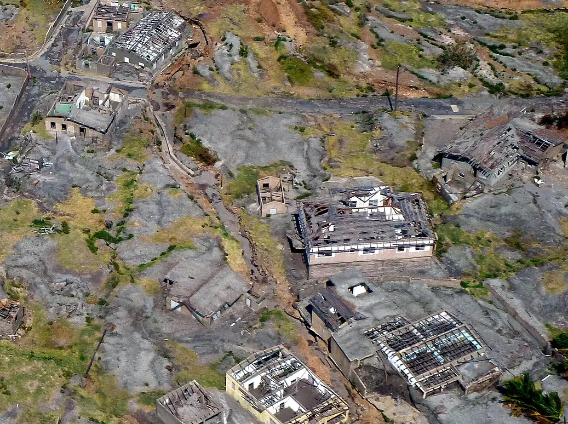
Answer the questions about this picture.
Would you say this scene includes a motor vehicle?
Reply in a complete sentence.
No, there appears to be no motor vehicle in this shot.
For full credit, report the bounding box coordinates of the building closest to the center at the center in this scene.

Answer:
[255,176,292,222]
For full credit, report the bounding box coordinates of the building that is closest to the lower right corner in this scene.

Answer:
[365,310,499,412]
